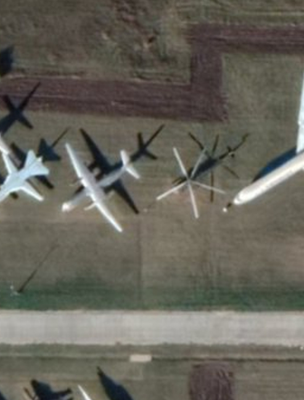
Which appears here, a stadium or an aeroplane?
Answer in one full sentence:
Of the two, only an aeroplane appears.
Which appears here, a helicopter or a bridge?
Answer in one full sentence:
There is a helicopter in the scene.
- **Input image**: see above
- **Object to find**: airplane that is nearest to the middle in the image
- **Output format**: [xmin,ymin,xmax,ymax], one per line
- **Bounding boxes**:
[63,144,139,231]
